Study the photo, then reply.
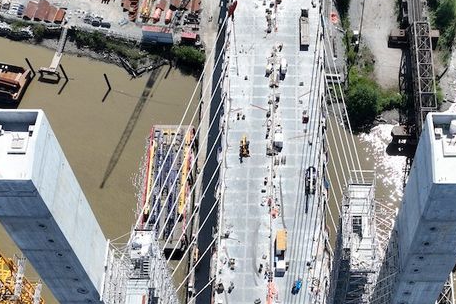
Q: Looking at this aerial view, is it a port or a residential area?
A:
port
